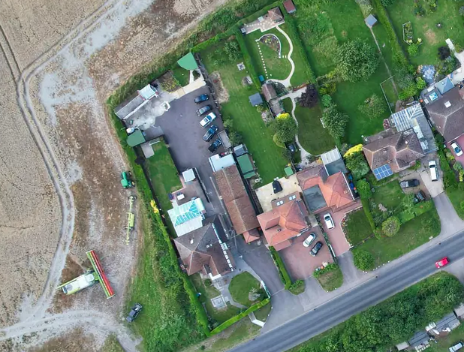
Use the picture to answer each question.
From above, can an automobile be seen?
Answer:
Yes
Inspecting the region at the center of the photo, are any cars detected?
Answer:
Yes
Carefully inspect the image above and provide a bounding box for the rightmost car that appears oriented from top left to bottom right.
[450,140,464,157]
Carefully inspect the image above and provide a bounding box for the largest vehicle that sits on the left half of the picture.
[53,244,120,296]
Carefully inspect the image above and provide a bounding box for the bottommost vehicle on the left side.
[122,303,143,324]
